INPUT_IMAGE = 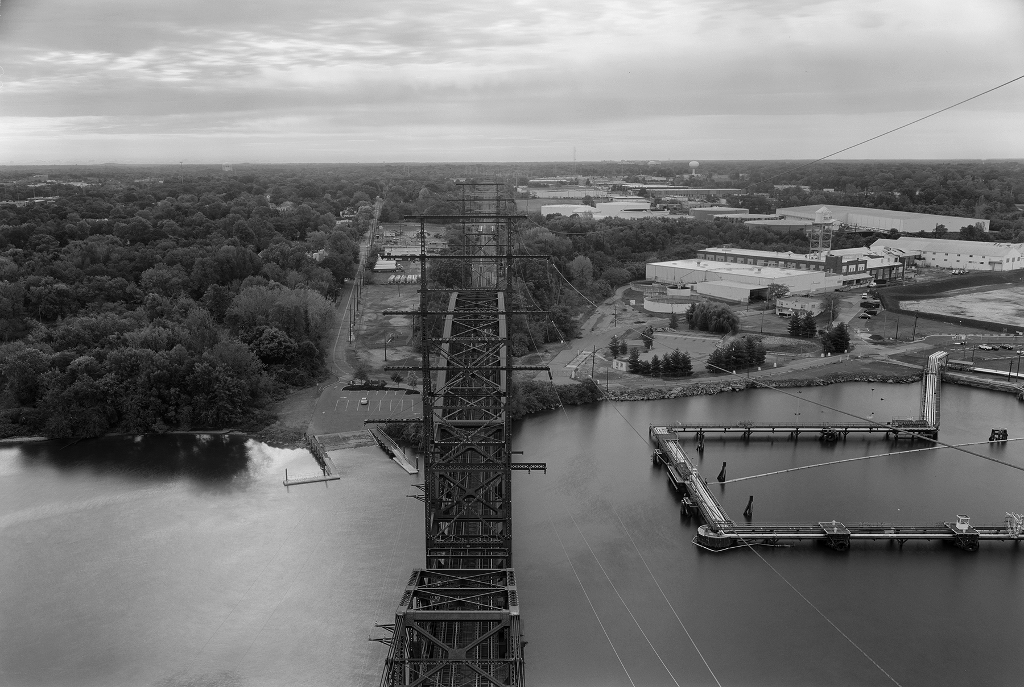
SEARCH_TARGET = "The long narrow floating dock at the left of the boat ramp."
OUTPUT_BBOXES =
[284,466,340,488]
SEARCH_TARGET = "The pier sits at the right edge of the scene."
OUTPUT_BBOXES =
[649,346,1024,559]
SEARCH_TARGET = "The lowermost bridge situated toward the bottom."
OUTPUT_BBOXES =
[369,564,531,687]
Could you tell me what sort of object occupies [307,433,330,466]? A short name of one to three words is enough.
pier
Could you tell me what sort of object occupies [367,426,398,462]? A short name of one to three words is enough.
pier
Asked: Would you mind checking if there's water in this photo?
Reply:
Yes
